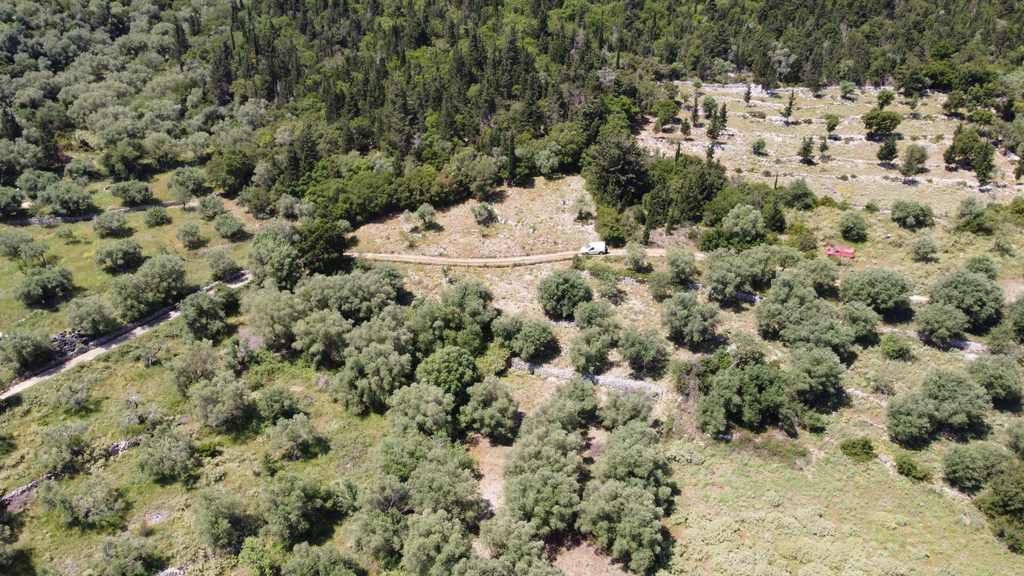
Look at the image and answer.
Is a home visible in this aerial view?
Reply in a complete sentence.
No, I can't see a single home in this photo.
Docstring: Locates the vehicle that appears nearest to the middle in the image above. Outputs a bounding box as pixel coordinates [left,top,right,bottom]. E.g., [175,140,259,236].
[581,242,606,256]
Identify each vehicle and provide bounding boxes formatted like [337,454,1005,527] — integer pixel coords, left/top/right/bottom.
[826,247,856,259]
[581,242,606,256]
